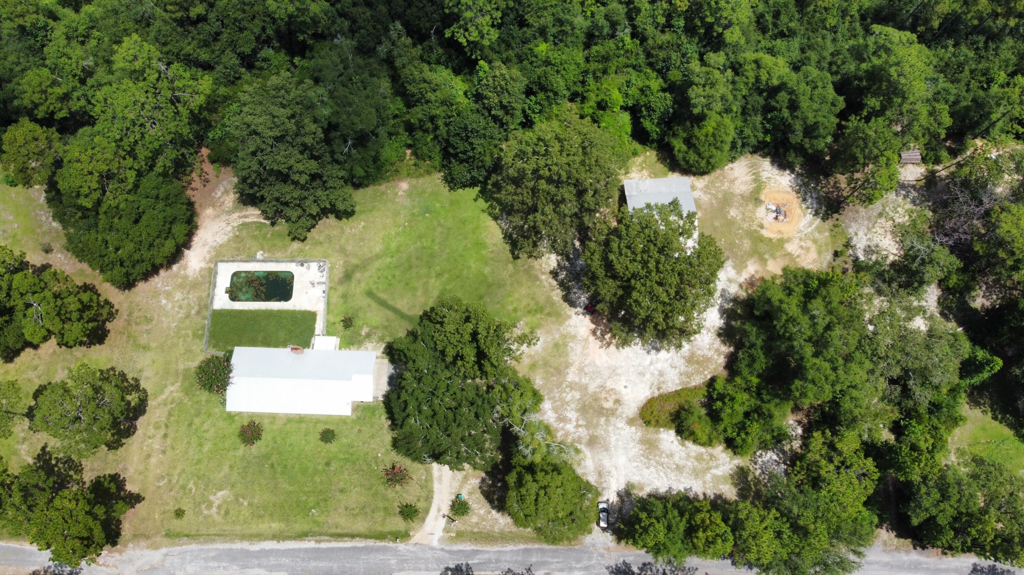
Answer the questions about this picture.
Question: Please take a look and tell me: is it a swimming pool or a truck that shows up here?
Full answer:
It is a swimming pool that can be seen here.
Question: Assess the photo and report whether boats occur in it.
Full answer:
No, there is no boat in the image.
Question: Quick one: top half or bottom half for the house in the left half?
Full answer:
The house in the left half sits in the bottom half of the picture.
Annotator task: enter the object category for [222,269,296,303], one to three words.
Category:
swimming pool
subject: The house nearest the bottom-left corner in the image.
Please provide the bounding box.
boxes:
[225,344,376,416]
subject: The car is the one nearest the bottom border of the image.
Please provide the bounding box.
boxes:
[597,501,610,530]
